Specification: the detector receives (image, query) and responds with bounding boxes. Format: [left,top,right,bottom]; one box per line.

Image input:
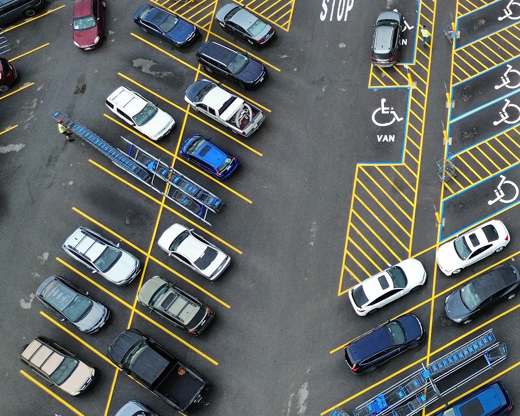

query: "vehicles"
[342,312,431,378]
[182,77,268,141]
[67,0,108,53]
[109,329,213,416]
[371,10,406,70]
[112,397,162,416]
[0,0,41,27]
[434,218,512,278]
[157,223,233,283]
[31,271,113,335]
[62,225,143,288]
[429,379,514,416]
[18,333,104,400]
[105,86,178,141]
[443,262,520,327]
[212,3,279,48]
[179,133,242,182]
[342,259,429,321]
[138,276,219,340]
[194,39,269,92]
[130,3,199,49]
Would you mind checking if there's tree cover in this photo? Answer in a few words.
No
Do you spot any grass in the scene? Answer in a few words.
No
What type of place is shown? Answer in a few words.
parking lot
